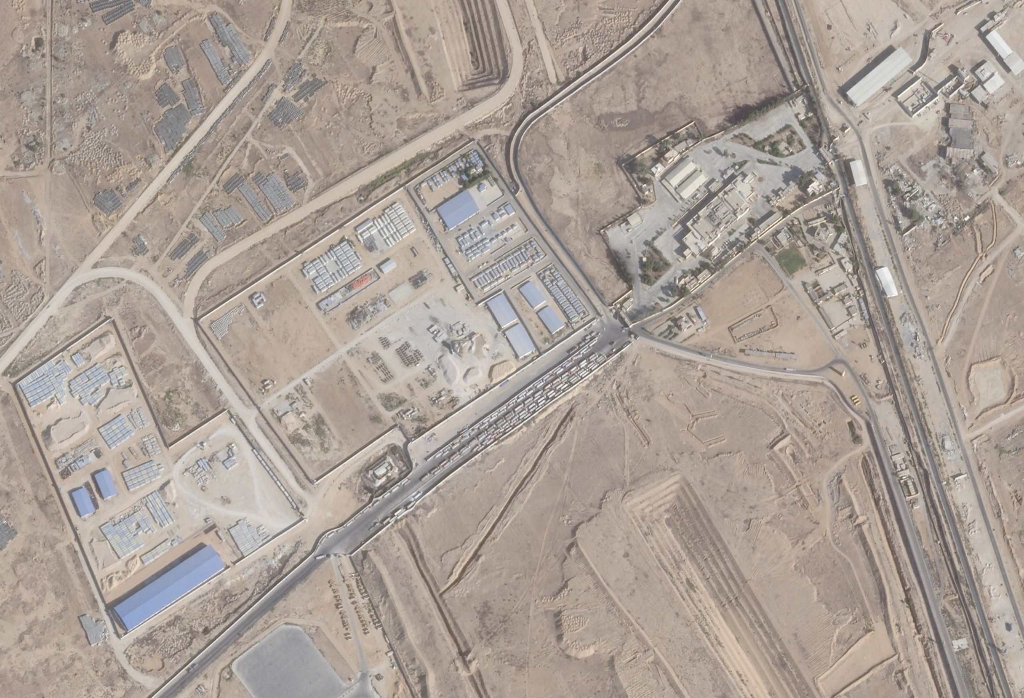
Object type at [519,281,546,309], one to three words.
building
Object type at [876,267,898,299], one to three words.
building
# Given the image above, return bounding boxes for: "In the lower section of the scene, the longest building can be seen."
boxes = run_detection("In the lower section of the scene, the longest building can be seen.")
[113,545,225,633]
